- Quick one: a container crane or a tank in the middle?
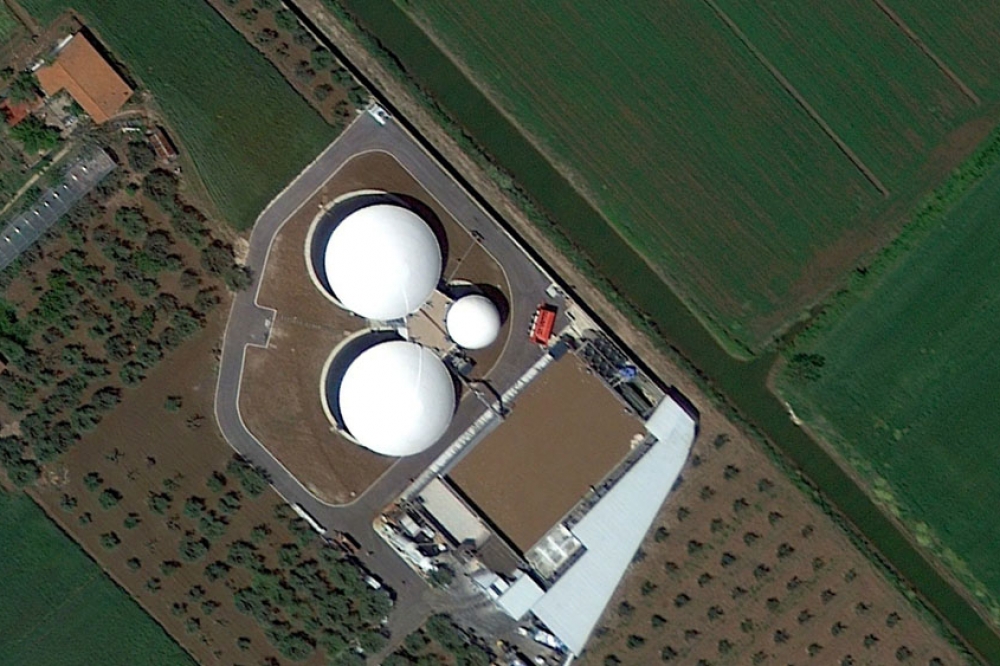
tank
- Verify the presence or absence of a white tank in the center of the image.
Yes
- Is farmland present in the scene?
Yes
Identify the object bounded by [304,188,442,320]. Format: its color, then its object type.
white storage tank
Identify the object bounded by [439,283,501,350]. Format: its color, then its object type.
white storage tank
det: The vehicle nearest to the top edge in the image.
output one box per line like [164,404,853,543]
[63,113,79,127]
